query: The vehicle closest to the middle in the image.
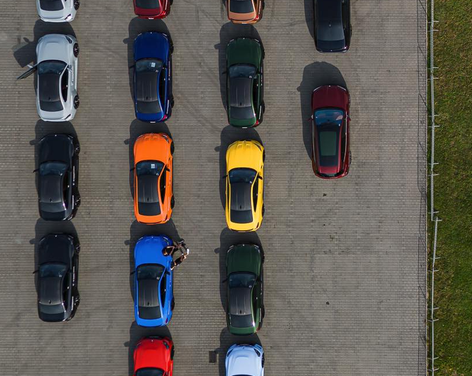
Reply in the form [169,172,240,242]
[221,140,266,232]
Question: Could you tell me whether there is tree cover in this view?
No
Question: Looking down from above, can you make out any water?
No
